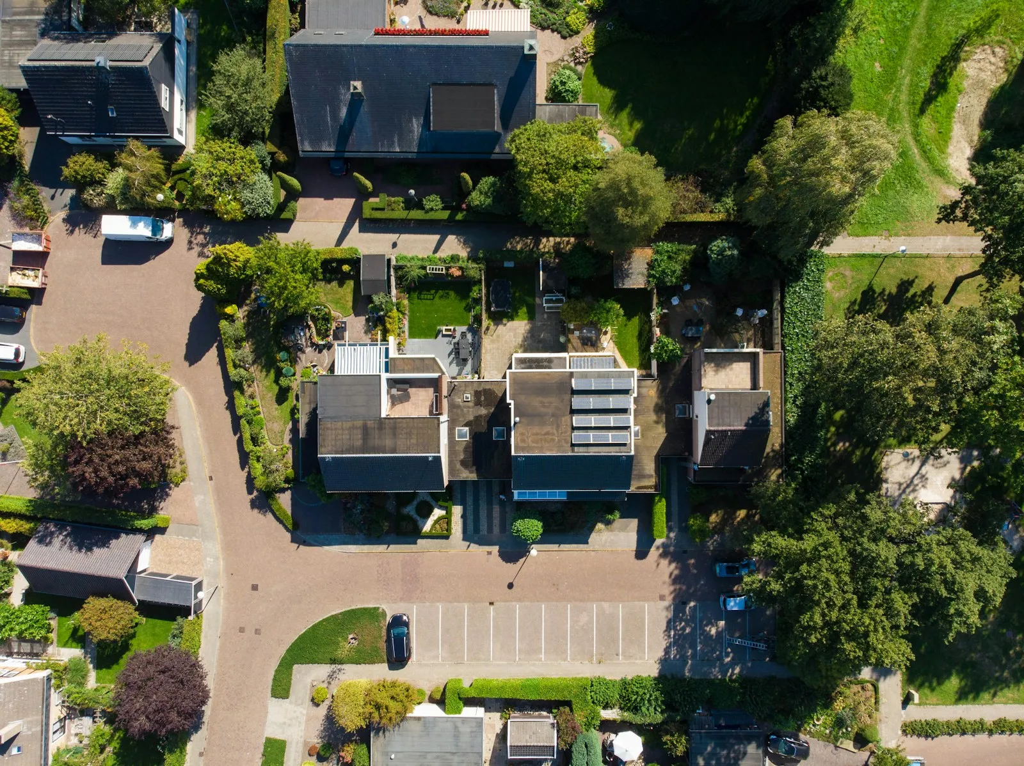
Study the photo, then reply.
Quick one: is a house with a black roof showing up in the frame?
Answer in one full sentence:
Yes, the image includes a house with a black roof.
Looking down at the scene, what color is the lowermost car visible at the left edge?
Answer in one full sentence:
The lowermost car visible at the left edge is white.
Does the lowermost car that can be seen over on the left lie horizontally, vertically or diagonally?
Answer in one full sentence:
The lowermost car that can be seen over on the left runs vertically in the image.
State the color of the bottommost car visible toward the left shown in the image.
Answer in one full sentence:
From above, the bottommost car visible toward the left appears black.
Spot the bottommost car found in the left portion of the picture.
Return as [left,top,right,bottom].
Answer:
[383,615,409,666]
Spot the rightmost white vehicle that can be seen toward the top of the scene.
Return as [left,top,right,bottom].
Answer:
[101,215,173,243]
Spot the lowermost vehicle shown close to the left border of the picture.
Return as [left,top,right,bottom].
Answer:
[0,342,21,363]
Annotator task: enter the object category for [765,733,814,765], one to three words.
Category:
car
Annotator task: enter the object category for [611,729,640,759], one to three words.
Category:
umbrella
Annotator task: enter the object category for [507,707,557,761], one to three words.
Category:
shed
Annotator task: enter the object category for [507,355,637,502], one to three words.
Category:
house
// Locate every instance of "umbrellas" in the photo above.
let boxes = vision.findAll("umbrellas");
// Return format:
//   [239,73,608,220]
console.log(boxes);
[399,17,411,27]
[611,729,640,759]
